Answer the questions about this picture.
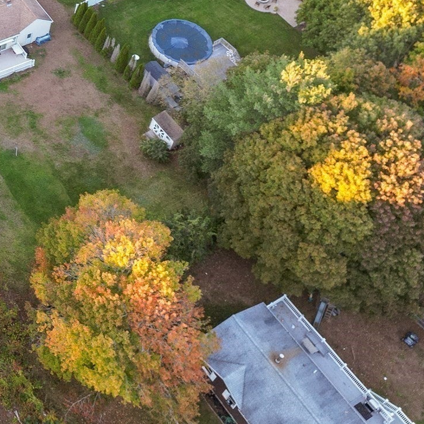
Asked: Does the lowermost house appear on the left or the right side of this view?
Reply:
right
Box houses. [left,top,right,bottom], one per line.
[0,0,54,80]
[213,292,421,424]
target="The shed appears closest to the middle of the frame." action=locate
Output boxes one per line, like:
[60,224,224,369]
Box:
[149,109,190,150]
